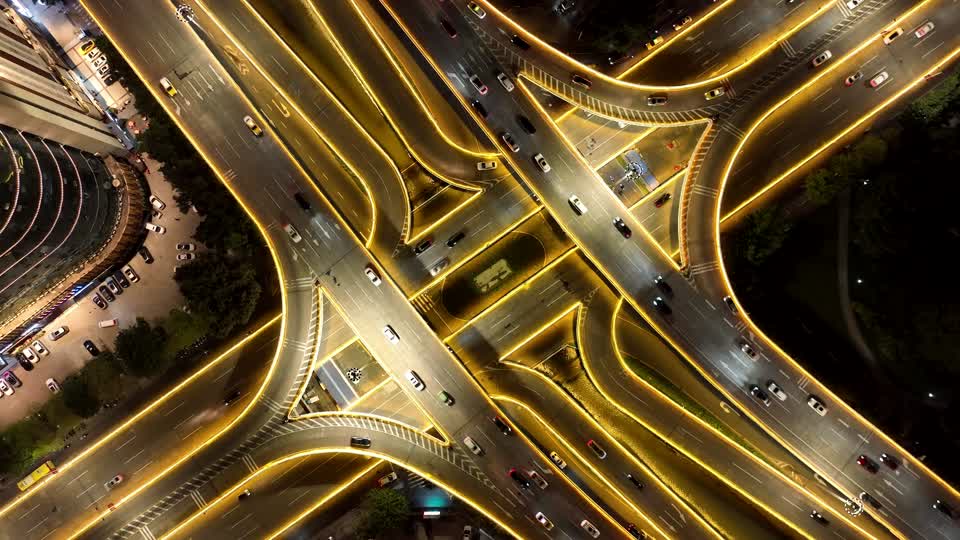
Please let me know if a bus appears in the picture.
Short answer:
Yes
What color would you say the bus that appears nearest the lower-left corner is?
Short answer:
yellow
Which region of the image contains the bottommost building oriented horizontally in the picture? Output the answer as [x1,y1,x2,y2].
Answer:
[396,506,477,540]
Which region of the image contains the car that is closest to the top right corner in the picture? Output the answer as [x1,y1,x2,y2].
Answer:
[918,21,938,36]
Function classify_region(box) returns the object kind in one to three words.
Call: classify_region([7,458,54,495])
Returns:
bus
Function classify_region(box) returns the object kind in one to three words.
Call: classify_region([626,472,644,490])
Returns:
car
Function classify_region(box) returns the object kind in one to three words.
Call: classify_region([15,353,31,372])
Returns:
car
